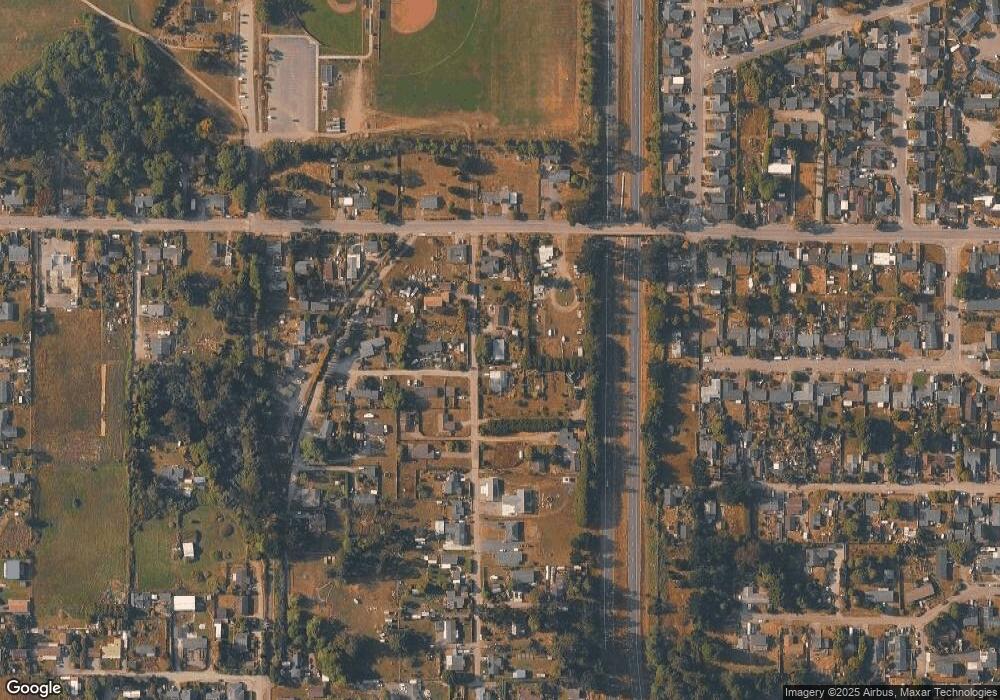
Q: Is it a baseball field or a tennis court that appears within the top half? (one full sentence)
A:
There is a baseball field within the top half.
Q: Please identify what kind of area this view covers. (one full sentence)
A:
What you see here is a residential area.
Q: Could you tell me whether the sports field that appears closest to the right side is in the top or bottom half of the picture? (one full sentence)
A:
It is in the top half that the sports field that appears closest to the right side appears.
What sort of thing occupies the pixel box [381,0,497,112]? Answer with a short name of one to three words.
baseball field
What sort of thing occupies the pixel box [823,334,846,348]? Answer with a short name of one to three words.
house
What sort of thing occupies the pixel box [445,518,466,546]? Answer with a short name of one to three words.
house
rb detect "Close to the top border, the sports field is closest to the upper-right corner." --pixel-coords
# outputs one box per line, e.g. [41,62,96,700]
[501,0,575,128]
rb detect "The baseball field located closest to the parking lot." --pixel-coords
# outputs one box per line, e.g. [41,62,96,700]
[301,0,367,54]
